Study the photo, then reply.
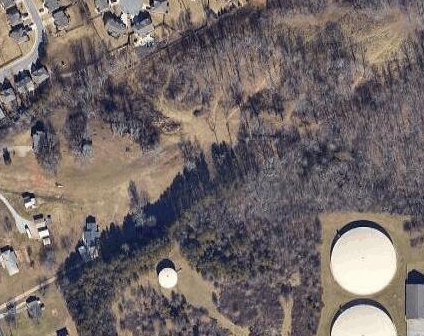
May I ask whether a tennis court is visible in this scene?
No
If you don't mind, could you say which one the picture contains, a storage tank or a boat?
storage tank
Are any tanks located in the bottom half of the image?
Yes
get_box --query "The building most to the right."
[406,284,424,319]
